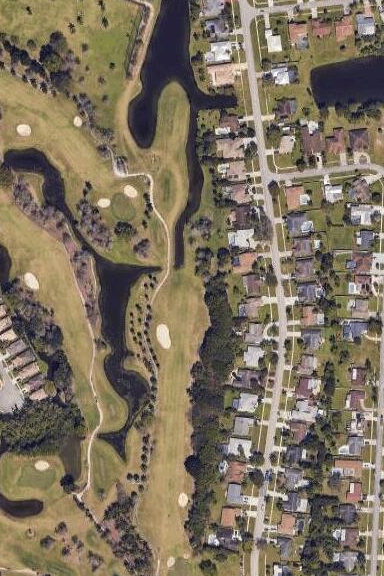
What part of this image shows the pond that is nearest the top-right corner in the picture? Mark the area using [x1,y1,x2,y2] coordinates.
[311,53,384,111]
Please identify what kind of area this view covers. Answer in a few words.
golf course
